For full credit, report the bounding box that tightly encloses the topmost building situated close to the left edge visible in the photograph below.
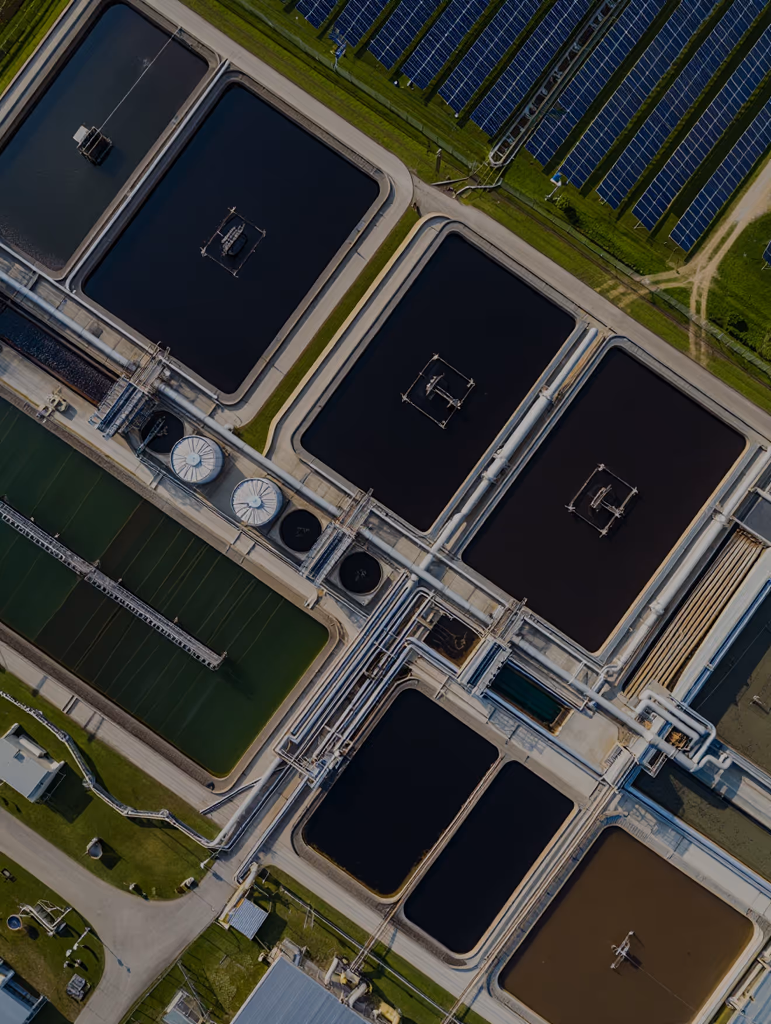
[0,717,76,802]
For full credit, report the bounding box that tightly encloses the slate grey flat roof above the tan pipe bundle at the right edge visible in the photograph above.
[740,496,771,541]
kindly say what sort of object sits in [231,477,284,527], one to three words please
storage tank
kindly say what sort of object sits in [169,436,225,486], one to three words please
storage tank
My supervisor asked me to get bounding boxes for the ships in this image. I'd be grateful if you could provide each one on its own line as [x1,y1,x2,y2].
[71,120,112,162]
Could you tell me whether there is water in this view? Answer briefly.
Yes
